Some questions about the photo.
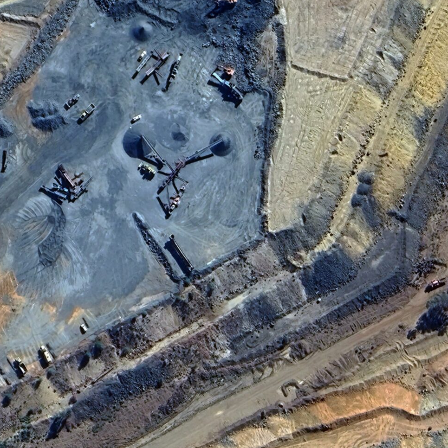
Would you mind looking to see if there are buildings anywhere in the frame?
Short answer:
No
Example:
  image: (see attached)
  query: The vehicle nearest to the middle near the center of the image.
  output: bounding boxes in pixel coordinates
[169,234,194,269]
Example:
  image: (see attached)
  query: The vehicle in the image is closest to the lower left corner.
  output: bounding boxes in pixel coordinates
[14,356,28,374]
